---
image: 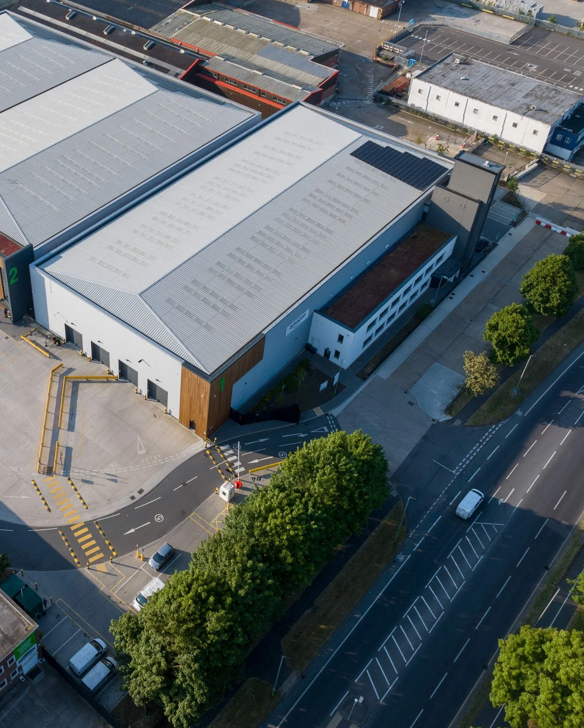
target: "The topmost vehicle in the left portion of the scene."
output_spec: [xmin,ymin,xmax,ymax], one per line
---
[146,542,176,575]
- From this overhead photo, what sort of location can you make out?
industrial area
